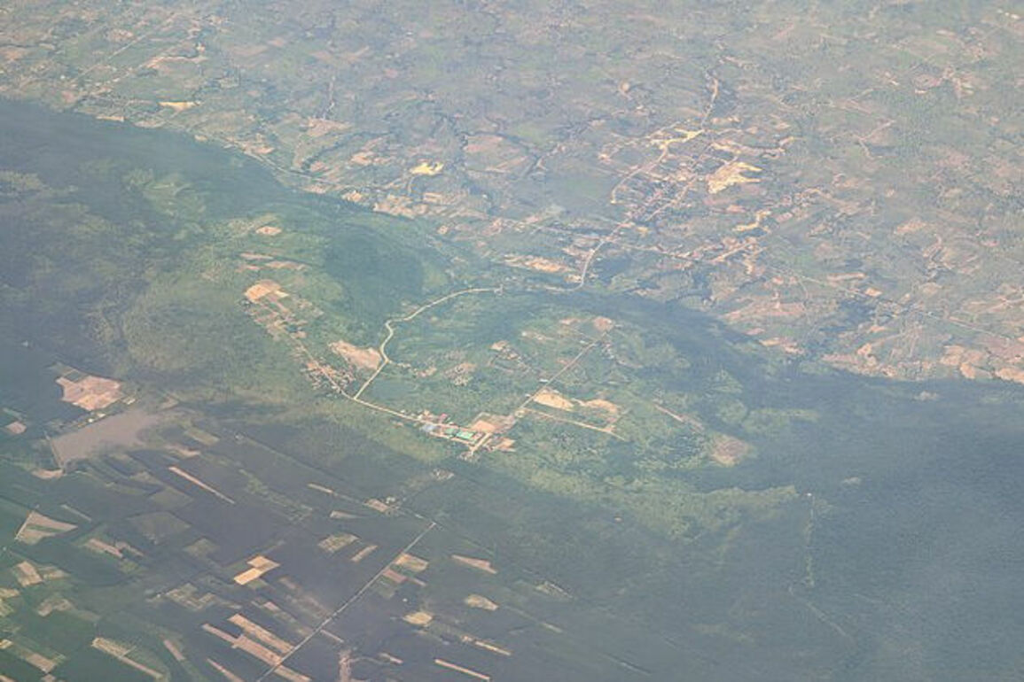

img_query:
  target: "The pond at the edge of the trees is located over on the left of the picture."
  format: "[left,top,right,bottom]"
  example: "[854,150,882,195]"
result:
[50,409,161,469]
